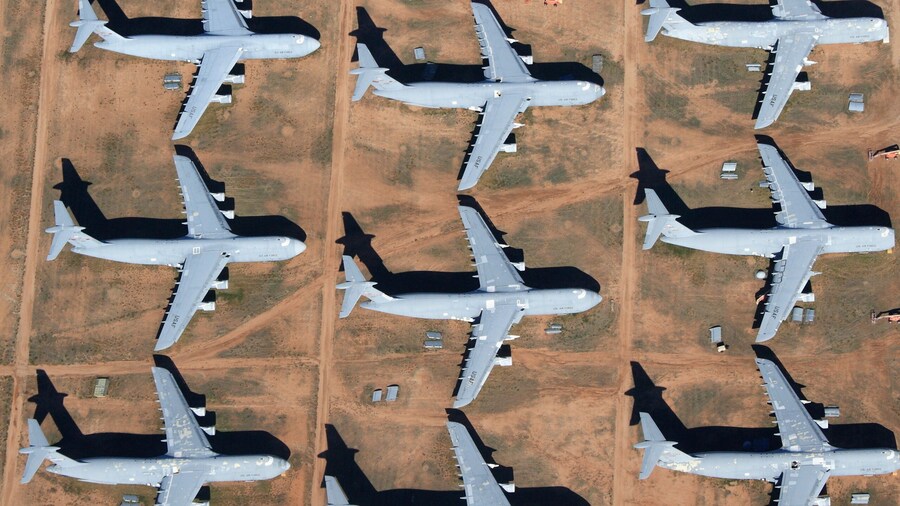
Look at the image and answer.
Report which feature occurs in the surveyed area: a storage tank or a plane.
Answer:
plane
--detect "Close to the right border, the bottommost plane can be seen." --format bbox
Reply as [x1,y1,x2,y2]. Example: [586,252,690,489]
[635,358,900,506]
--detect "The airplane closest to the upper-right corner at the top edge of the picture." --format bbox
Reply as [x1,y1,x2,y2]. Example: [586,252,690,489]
[641,0,888,128]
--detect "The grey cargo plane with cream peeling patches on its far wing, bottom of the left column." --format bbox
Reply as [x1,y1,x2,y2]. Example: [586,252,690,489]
[19,366,290,506]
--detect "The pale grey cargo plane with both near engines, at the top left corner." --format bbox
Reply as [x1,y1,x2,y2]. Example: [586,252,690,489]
[69,0,321,140]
